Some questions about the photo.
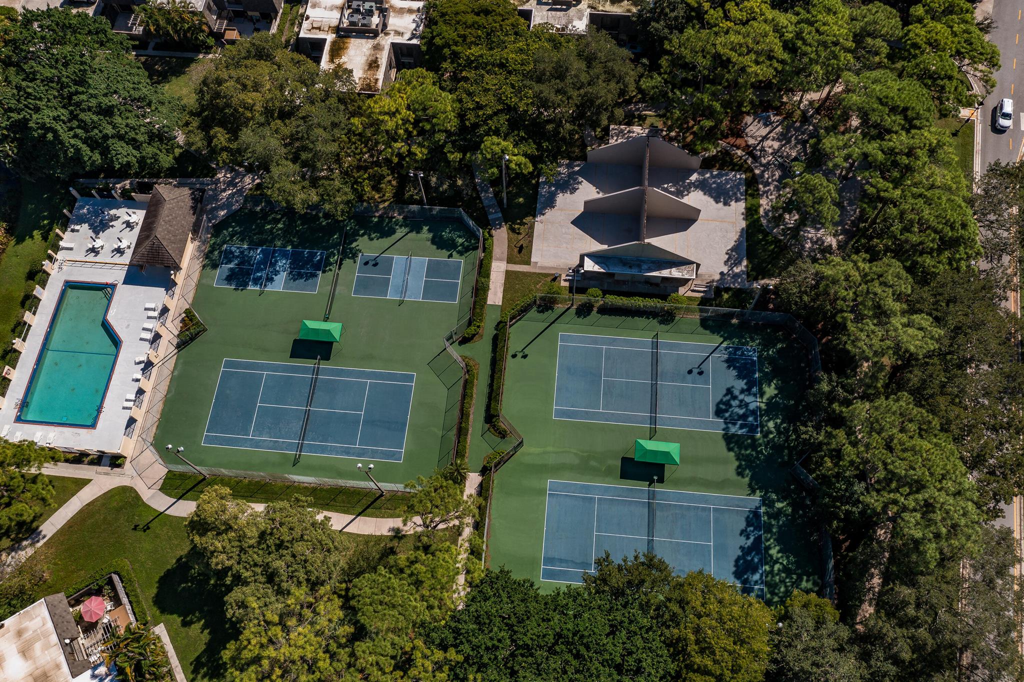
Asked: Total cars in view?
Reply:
one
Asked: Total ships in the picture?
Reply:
zero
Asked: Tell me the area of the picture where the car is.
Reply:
top right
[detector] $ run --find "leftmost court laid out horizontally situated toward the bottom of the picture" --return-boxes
[202,359,415,462]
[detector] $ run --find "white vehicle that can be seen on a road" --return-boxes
[997,98,1018,131]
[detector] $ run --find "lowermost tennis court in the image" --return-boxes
[542,480,764,595]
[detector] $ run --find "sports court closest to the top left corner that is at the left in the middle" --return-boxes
[214,245,326,293]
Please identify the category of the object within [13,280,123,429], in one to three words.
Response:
swimming pool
